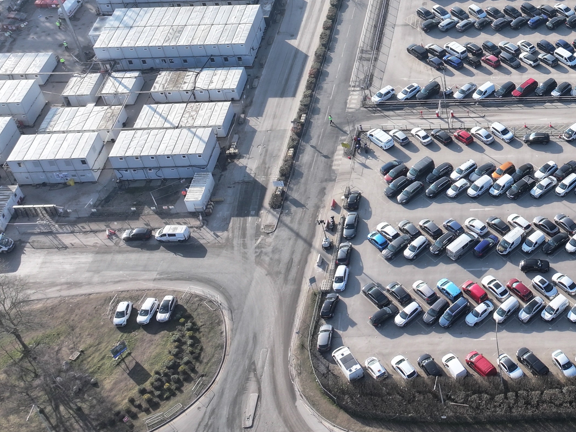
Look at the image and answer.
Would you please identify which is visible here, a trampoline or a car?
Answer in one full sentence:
I can see a car in this picture.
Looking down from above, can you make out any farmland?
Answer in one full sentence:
No, the picture contains no farmland.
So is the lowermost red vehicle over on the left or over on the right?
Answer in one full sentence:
The lowermost red vehicle sits on the right side.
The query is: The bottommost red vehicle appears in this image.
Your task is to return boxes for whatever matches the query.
[469,349,495,380]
